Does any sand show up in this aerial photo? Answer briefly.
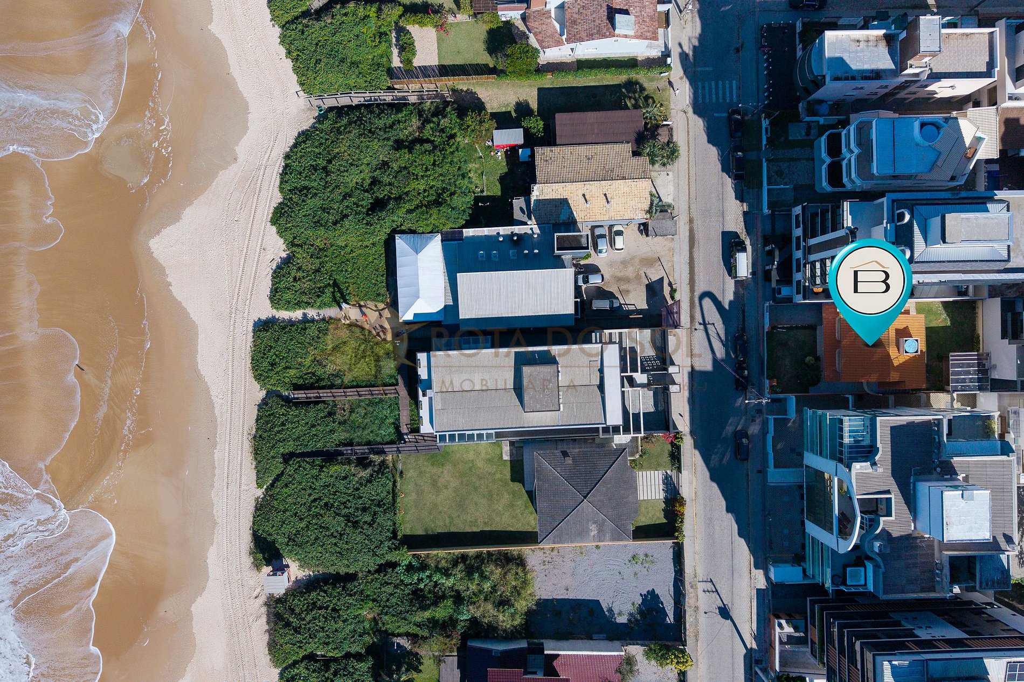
Yes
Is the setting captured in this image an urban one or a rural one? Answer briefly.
urban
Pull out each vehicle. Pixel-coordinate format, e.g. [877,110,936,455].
[734,361,750,394]
[592,226,608,258]
[730,237,749,280]
[770,284,791,298]
[575,272,604,286]
[733,333,749,362]
[611,224,625,252]
[788,0,825,10]
[728,106,744,142]
[590,297,621,311]
[733,429,750,461]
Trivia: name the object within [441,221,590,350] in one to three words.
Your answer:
building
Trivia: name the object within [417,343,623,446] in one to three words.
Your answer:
building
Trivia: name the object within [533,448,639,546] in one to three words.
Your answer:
house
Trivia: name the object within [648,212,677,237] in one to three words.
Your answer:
shed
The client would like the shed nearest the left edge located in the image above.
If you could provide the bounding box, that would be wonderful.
[262,563,292,595]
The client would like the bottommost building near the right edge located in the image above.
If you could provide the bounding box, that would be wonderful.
[804,593,1024,682]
